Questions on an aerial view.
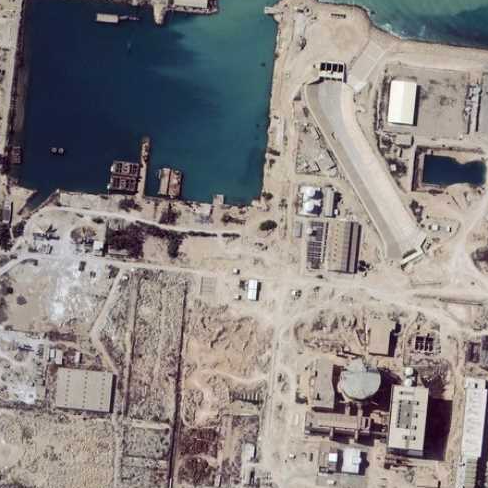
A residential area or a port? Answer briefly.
port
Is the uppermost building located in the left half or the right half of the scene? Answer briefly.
right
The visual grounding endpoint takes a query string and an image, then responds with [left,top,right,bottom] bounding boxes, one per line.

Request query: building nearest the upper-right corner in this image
[388,81,418,126]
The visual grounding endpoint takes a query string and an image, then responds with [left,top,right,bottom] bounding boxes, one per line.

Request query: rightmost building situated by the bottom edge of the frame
[455,378,487,488]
